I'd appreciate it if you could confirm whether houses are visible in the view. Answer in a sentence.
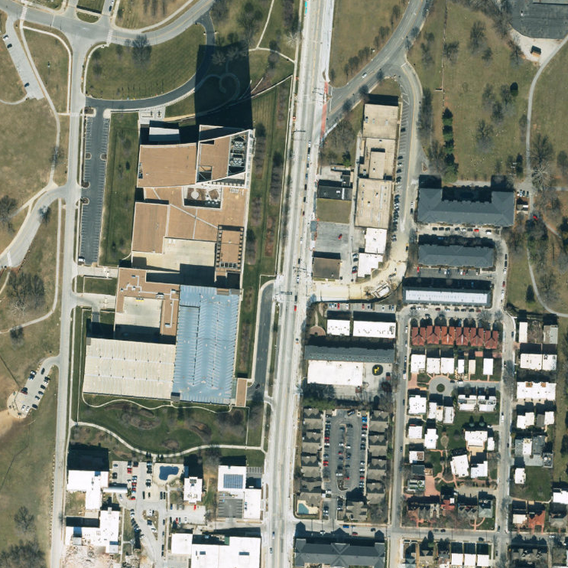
Yes, the frame does contain a house.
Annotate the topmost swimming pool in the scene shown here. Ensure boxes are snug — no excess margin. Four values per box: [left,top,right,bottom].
[159,465,179,480]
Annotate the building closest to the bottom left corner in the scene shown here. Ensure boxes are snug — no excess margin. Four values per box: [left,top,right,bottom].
[66,526,100,545]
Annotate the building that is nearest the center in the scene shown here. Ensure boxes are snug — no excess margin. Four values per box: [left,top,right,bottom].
[313,257,341,279]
